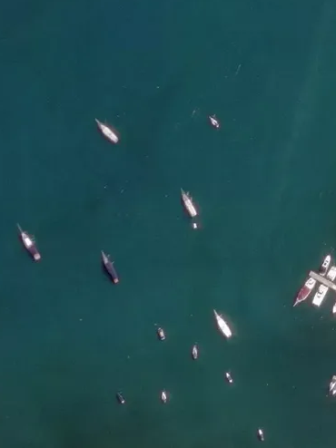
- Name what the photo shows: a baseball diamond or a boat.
boat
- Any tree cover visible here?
No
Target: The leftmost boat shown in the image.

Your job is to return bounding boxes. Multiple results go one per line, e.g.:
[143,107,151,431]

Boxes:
[19,226,40,260]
